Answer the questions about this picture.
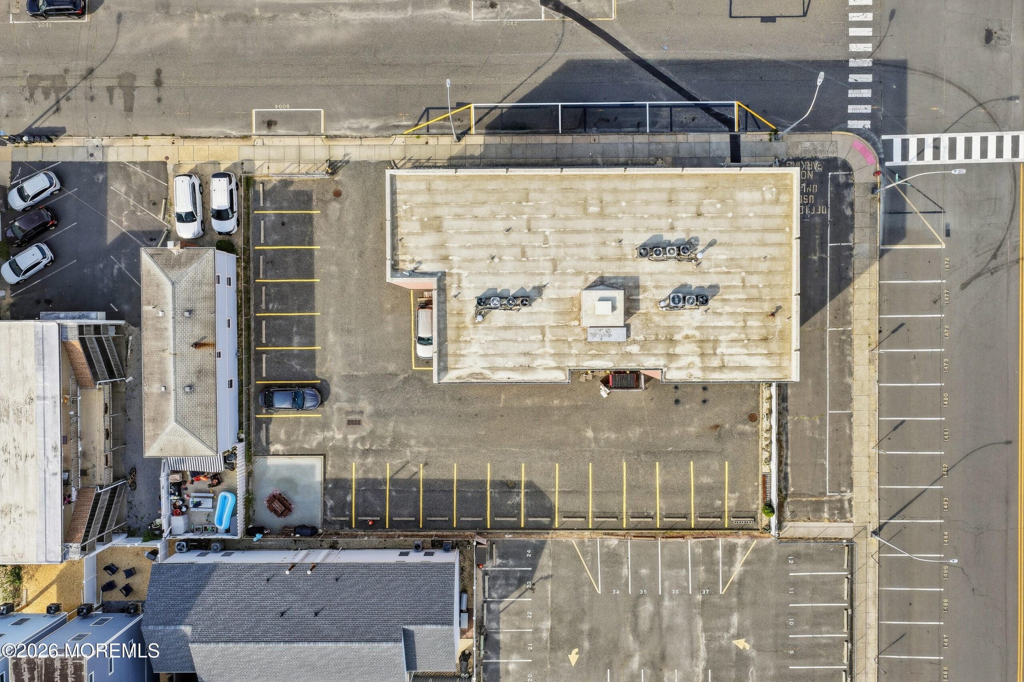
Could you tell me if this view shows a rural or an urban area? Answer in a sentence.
It looks urban.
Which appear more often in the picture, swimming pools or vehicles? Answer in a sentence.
In this scene, the vehicles are more numerous than the swimming pools.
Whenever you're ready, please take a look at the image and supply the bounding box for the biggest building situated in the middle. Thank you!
[385,166,801,384]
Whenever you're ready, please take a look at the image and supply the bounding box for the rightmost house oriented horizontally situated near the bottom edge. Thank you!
[141,549,460,682]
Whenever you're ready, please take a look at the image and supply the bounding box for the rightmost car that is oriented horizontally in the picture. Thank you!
[259,384,324,415]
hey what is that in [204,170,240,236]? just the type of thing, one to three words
car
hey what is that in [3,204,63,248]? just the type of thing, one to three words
car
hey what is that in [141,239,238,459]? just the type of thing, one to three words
house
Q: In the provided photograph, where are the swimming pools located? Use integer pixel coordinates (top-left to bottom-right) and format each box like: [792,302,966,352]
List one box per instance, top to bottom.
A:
[213,489,237,530]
